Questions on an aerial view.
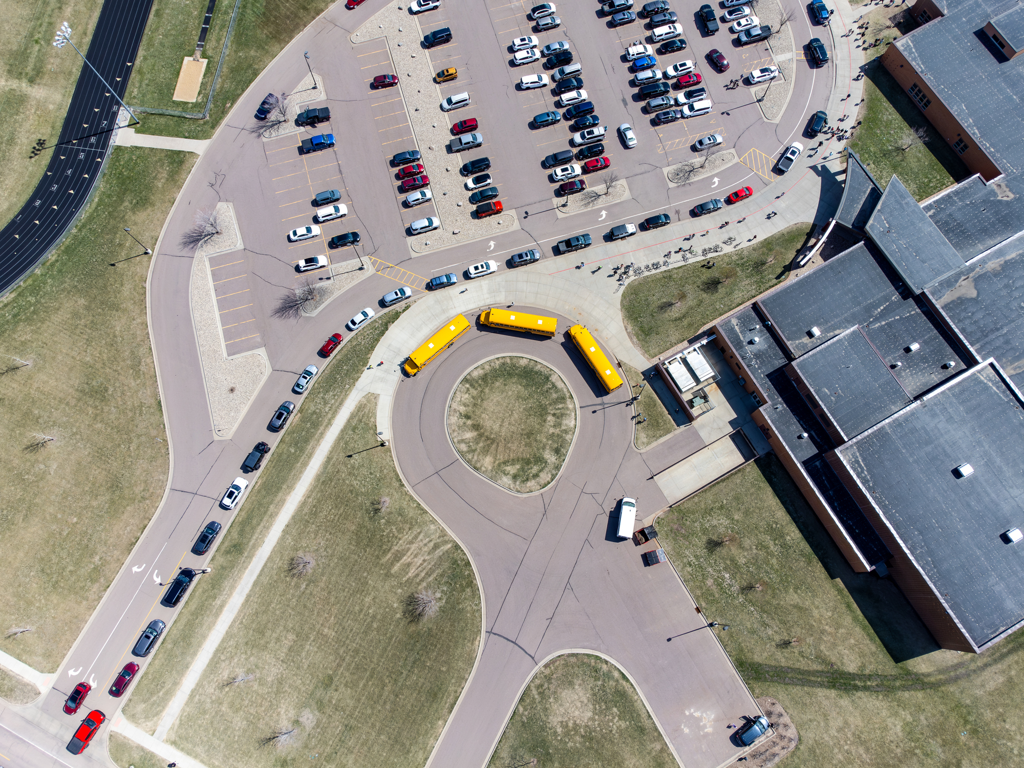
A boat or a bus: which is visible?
bus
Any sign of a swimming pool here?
No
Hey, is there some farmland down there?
No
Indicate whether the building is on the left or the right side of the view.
right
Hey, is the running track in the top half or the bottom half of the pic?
top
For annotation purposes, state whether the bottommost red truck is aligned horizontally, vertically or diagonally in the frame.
diagonally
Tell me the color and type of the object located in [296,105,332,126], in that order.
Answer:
black truck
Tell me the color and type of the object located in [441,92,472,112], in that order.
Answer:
white car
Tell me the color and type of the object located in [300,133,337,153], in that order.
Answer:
blue vehicle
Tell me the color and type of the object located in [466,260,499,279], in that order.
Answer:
white car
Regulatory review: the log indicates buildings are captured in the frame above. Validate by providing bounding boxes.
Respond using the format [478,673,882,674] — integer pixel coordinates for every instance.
[708,0,1024,654]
